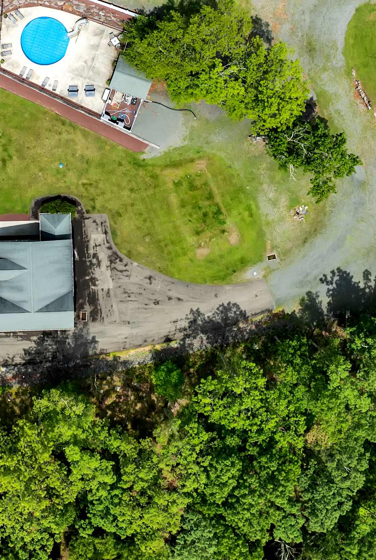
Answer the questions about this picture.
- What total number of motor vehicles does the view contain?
zero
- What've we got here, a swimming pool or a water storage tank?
swimming pool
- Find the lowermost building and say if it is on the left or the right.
left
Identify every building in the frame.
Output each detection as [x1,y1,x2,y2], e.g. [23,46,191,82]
[109,45,154,100]
[0,239,75,332]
